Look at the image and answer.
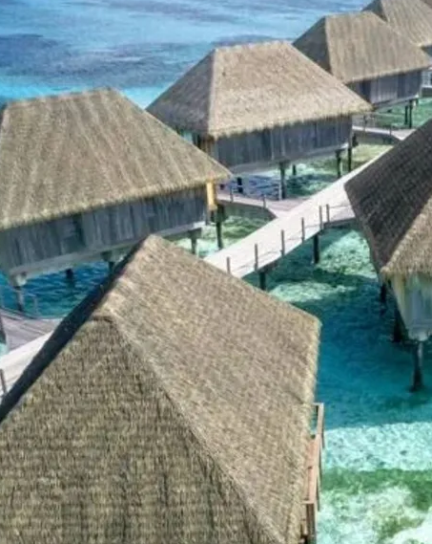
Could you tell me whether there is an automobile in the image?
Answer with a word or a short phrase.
No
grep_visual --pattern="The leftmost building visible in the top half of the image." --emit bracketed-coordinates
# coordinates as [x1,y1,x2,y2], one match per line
[0,86,229,329]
